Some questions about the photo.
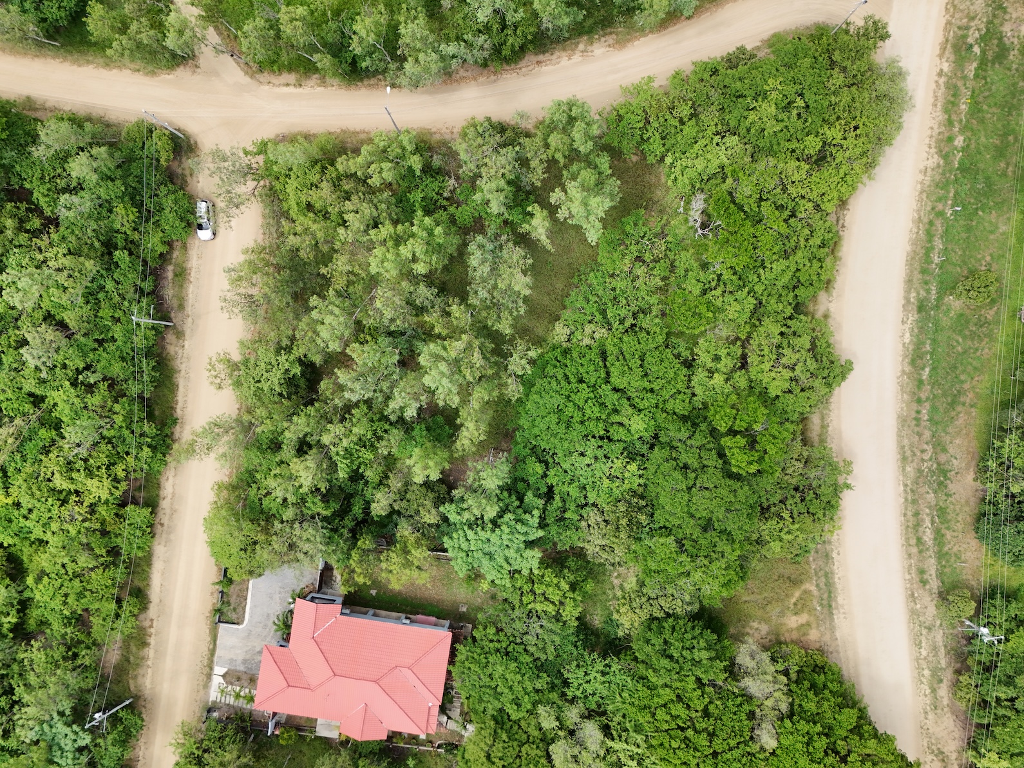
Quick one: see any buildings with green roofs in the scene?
No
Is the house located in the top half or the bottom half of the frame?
bottom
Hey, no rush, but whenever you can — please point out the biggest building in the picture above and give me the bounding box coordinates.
[256,586,452,741]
